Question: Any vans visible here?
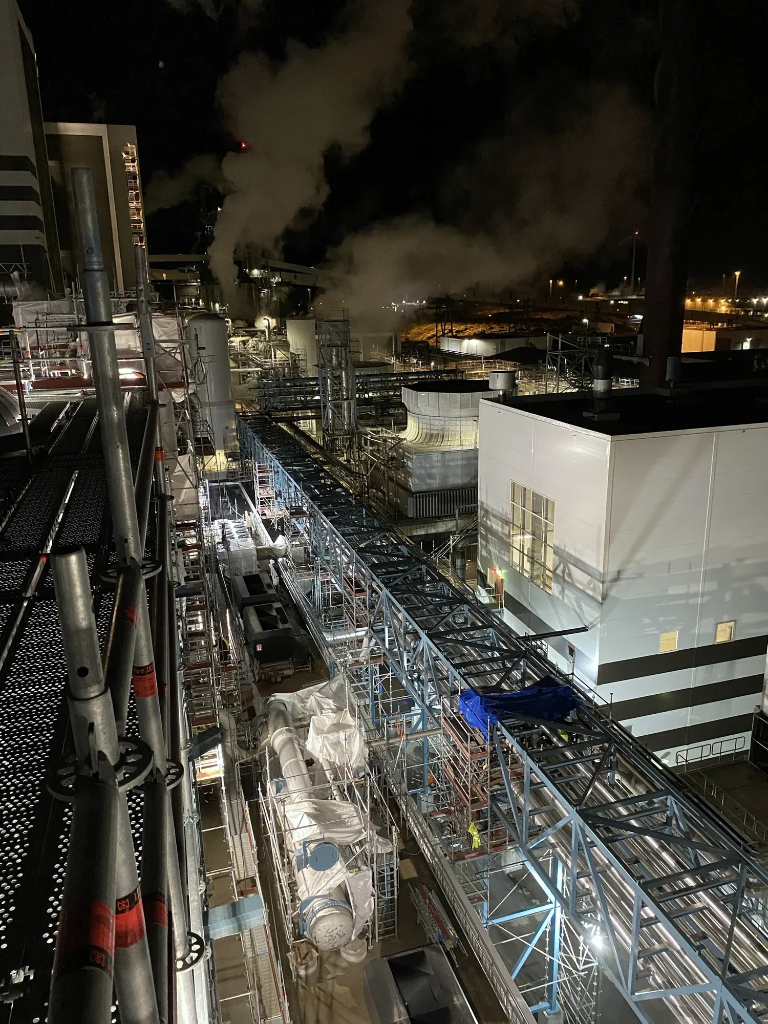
No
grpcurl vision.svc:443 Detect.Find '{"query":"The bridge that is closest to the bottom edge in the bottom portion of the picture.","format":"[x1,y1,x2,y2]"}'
[275,558,538,1024]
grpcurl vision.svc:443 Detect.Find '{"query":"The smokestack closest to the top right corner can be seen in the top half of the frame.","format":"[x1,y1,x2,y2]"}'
[608,0,714,384]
